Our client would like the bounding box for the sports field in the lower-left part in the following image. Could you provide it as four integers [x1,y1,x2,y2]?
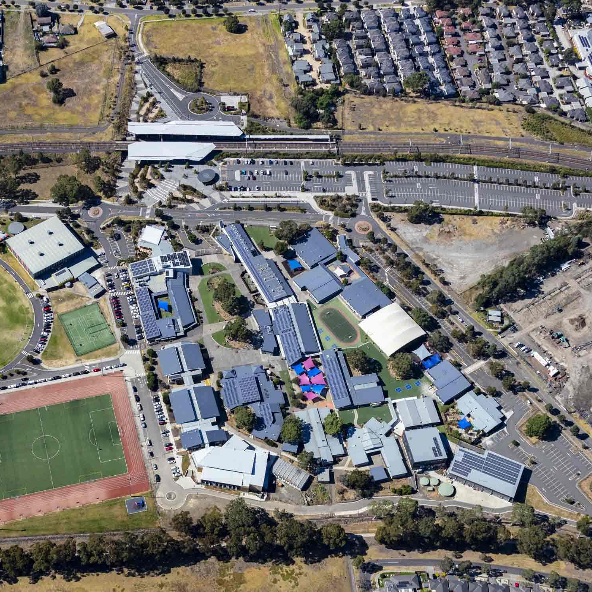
[0,394,128,500]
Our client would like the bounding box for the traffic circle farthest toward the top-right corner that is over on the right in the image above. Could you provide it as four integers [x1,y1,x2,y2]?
[345,212,384,243]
